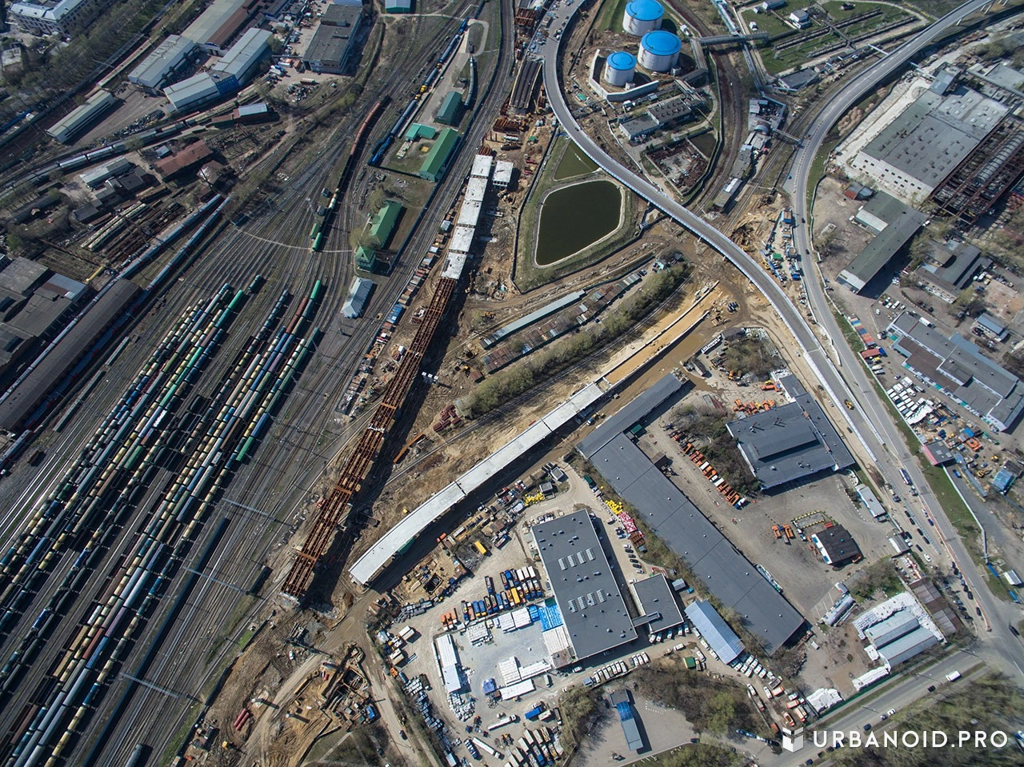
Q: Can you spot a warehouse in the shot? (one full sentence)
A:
Yes, the picture does show a warehouse.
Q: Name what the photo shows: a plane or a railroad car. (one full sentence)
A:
There is a railroad car in the scene.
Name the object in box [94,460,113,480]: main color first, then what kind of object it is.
black rail car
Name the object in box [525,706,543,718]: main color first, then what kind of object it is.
blue vehicle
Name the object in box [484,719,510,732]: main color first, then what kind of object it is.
white vehicle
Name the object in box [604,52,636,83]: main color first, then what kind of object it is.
blue storage tank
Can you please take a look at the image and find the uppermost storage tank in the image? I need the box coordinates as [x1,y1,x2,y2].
[620,0,664,37]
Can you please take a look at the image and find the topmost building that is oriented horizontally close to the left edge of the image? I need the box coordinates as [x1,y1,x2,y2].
[10,0,111,36]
